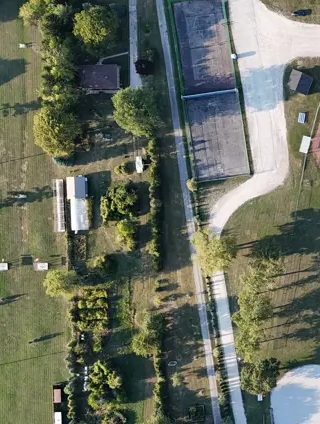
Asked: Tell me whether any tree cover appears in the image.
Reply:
Yes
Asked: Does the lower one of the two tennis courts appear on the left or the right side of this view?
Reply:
right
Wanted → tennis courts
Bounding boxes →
[174,0,236,94]
[184,91,249,180]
